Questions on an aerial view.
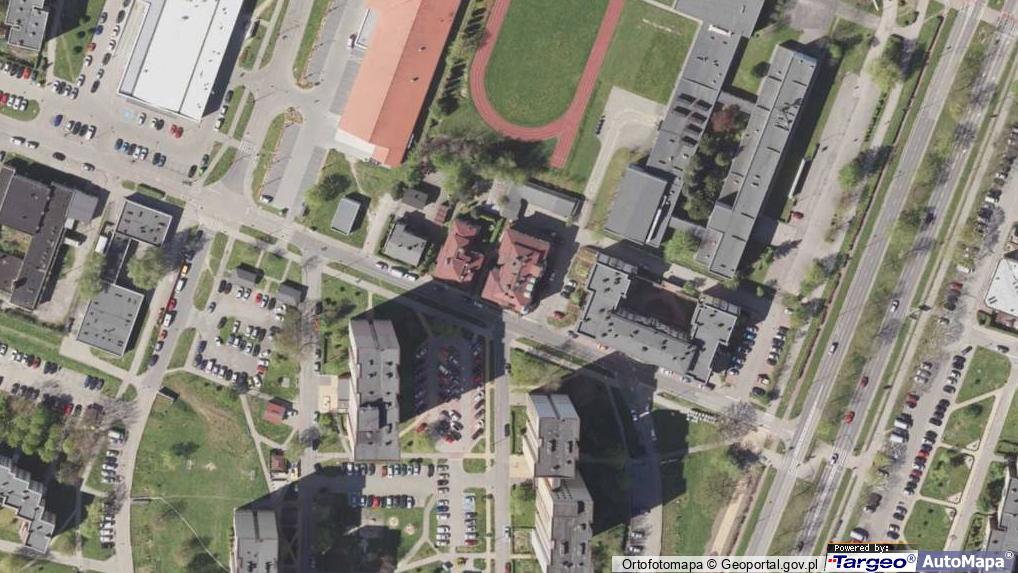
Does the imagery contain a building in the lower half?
Yes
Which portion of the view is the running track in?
top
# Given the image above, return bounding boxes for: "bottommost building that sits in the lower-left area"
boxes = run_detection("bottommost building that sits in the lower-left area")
[231,511,278,573]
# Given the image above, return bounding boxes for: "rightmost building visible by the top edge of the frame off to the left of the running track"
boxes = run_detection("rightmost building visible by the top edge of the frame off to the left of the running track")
[335,0,460,167]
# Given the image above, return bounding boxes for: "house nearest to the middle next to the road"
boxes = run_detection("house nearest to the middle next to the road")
[481,227,550,314]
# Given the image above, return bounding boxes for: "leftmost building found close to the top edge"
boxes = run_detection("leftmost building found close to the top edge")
[6,0,50,51]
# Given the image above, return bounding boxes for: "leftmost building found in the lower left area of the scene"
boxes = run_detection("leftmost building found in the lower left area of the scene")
[0,452,57,553]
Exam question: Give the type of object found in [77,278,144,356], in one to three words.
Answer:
building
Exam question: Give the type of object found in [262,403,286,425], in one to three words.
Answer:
shed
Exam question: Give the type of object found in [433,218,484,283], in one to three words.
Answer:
house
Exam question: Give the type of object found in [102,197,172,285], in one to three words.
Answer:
building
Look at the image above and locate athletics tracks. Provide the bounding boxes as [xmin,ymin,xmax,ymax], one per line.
[468,0,624,169]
